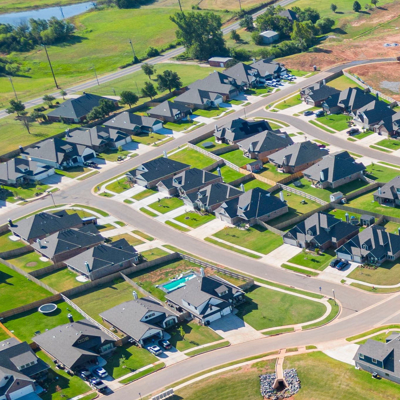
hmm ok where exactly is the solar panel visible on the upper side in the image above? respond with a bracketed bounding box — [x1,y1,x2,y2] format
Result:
[240,123,268,135]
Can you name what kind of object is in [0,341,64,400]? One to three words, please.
house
